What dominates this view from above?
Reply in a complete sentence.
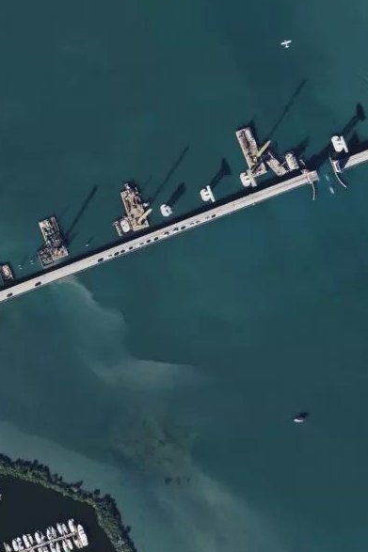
The scene is dominated by water.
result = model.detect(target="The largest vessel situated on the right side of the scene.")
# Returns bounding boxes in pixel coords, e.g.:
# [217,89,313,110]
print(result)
[236,127,267,174]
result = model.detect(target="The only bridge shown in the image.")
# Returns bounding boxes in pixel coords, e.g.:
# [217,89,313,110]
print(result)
[0,148,368,301]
